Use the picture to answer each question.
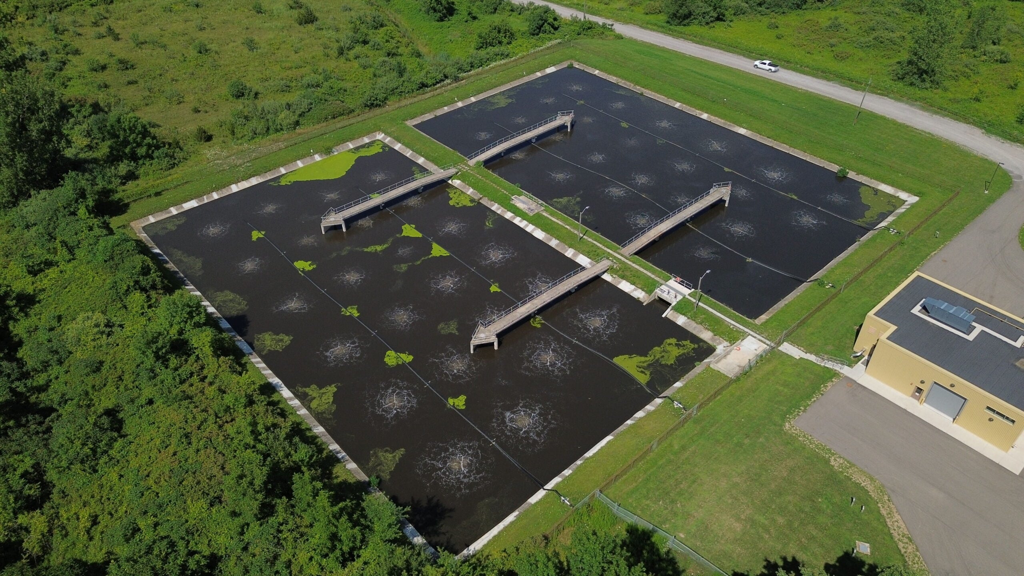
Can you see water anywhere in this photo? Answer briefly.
Yes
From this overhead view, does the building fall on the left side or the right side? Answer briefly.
right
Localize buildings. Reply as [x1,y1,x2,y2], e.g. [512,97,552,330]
[853,270,1024,452]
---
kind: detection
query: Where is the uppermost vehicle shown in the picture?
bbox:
[753,59,780,72]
